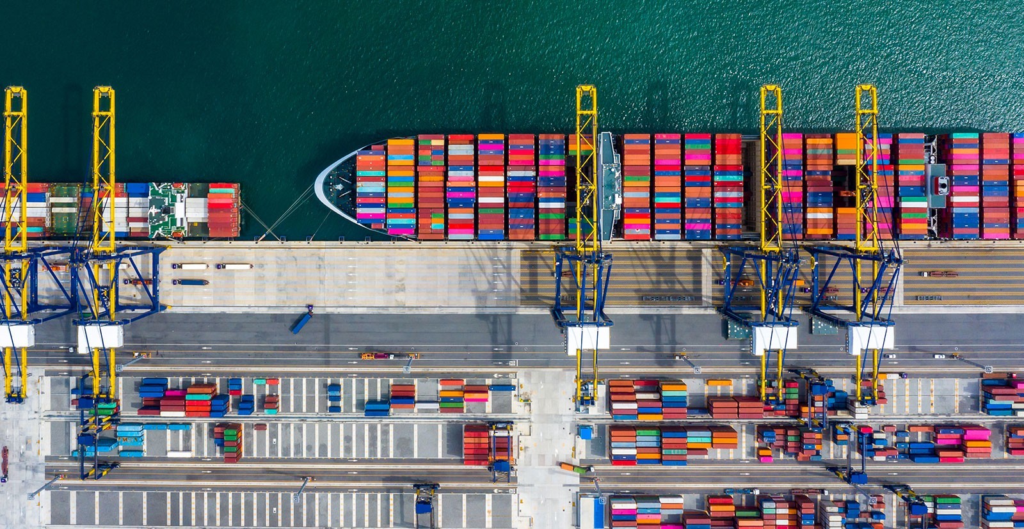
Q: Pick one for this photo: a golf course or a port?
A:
port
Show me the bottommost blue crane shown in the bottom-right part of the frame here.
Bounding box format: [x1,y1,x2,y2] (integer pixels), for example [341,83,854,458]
[885,483,929,529]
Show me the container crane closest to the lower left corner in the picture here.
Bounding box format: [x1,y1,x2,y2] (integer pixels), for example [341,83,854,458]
[78,419,123,486]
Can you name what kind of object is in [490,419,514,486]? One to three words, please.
container crane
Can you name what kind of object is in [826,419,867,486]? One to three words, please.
container crane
